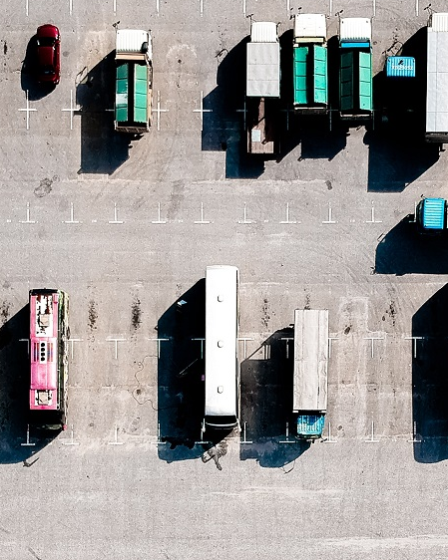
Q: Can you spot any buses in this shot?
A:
Yes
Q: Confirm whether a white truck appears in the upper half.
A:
Yes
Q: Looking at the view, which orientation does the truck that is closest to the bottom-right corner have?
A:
from top to bottom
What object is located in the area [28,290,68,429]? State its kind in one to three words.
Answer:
bus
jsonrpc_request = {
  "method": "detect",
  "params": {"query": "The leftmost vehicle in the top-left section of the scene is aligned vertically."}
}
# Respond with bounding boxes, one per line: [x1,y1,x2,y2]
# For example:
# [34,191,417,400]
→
[34,25,61,84]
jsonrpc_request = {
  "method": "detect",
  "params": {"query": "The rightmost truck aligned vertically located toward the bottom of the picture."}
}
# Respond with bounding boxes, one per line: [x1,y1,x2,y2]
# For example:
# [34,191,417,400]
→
[294,310,330,445]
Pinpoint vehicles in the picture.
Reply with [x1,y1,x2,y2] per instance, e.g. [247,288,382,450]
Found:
[294,310,330,445]
[244,13,282,157]
[289,6,330,120]
[413,194,448,237]
[204,265,241,430]
[111,21,153,137]
[380,48,419,126]
[28,290,68,429]
[422,5,448,140]
[333,11,374,123]
[34,25,61,84]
